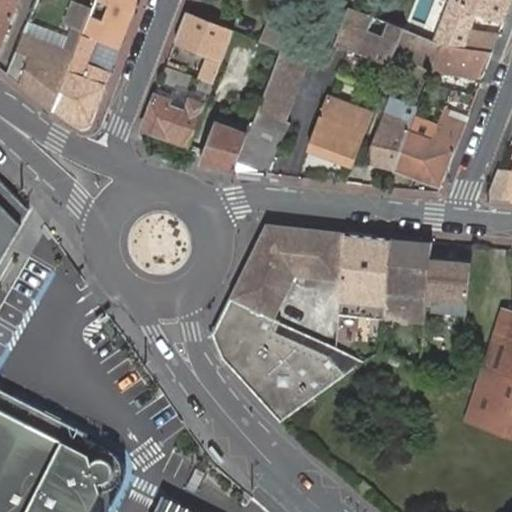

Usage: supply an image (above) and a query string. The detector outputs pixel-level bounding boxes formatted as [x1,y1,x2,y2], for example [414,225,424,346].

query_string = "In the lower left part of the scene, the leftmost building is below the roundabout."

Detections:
[0,390,120,512]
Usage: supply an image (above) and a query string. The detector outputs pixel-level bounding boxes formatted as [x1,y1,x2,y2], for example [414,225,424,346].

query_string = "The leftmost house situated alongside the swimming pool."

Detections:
[334,8,402,60]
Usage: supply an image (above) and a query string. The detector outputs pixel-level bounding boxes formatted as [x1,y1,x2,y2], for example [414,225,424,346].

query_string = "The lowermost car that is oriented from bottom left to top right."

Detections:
[153,409,174,427]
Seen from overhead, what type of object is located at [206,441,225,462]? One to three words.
car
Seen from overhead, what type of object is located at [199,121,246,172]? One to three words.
house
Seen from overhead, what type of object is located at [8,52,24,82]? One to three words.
shed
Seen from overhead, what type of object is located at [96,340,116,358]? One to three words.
car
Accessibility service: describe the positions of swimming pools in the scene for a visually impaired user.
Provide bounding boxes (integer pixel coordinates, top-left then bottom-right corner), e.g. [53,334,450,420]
[408,0,442,33]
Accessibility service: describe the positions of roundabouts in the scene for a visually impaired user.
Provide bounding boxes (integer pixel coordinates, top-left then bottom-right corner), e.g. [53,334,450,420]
[84,160,236,325]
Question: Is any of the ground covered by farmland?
No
